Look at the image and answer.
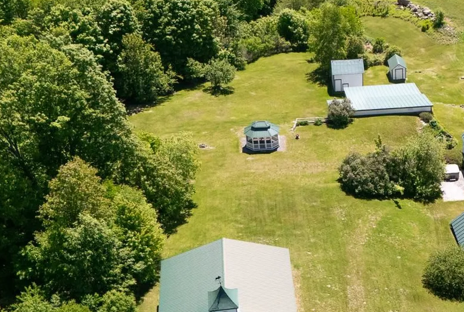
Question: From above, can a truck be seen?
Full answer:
No, the photo shows no truck.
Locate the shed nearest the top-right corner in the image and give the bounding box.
[388,55,407,79]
